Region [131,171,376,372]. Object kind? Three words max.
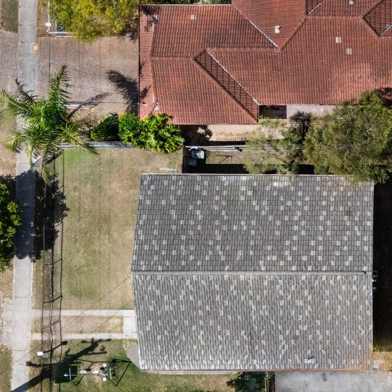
house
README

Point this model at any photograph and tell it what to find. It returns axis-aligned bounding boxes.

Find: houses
[131,171,376,372]
[137,0,392,126]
